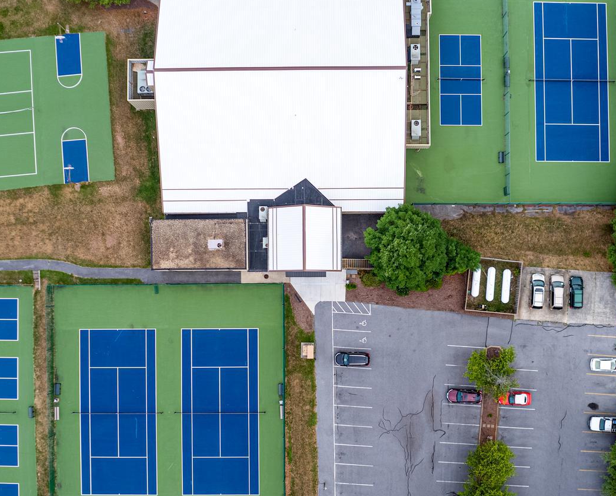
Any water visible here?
No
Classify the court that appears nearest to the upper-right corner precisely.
tennis court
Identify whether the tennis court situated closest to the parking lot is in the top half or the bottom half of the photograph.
bottom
